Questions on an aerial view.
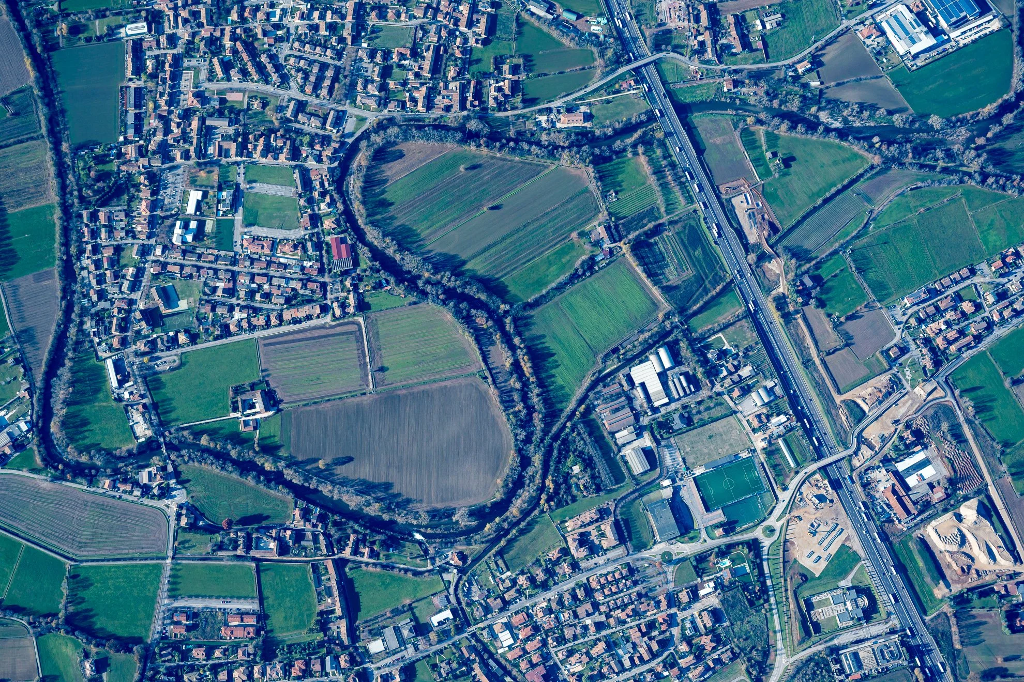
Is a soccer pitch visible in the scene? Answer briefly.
Yes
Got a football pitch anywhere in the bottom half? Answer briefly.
Yes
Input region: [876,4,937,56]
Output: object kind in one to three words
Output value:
building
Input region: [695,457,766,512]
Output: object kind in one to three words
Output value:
soccer field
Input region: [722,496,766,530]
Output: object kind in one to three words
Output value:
soccer field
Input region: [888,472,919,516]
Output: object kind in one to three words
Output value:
shed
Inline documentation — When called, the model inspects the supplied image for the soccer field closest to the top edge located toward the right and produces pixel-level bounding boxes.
[672,417,753,471]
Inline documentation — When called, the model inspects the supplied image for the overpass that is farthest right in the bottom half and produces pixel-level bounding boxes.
[787,379,922,493]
